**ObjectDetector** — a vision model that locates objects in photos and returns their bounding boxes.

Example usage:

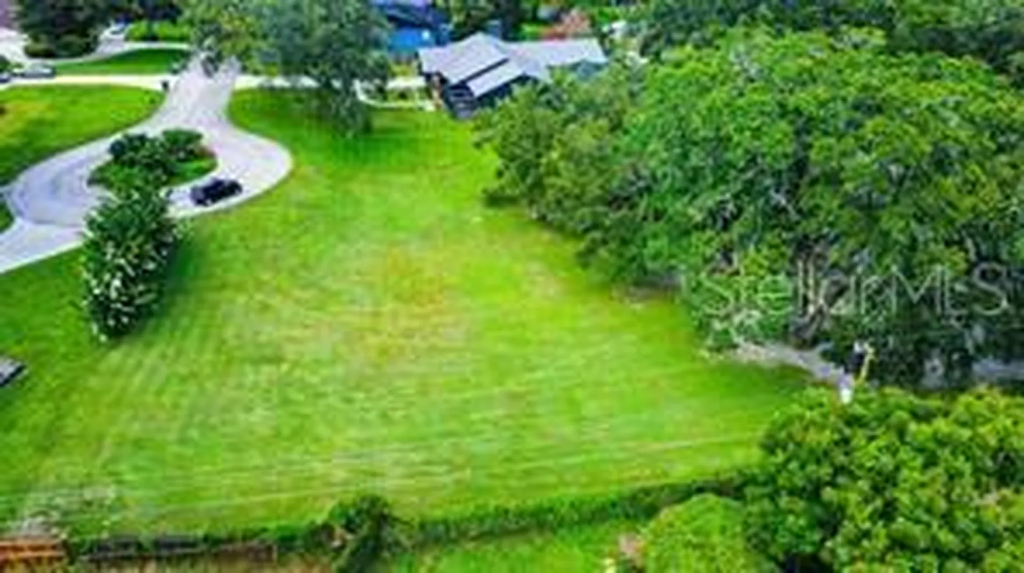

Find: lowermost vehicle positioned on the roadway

[188,174,244,204]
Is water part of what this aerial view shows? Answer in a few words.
No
